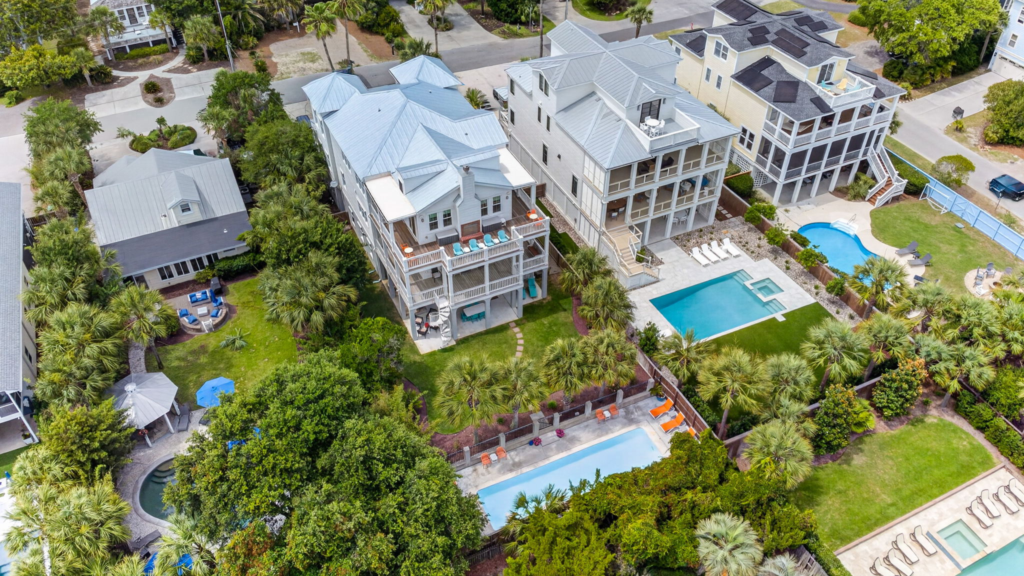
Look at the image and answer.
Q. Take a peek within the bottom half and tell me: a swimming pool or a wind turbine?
swimming pool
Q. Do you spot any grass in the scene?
Yes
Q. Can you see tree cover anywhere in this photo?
Yes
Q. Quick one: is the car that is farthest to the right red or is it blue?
blue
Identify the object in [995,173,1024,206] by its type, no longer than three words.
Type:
car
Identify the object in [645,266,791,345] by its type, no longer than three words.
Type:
swimming pool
